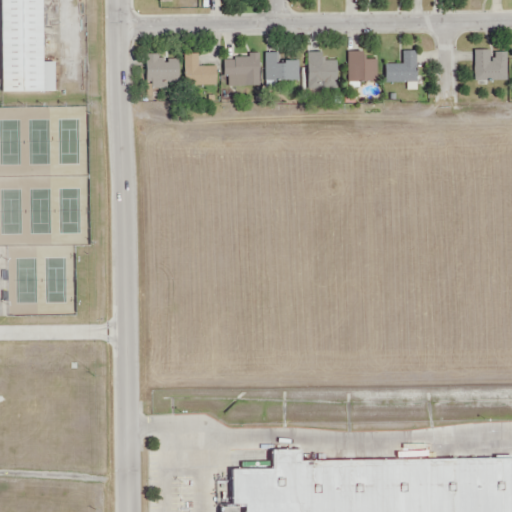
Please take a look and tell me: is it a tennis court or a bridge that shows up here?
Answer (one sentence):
The image shows a tennis court.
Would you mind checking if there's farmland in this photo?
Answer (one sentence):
Yes, some farmland is visible.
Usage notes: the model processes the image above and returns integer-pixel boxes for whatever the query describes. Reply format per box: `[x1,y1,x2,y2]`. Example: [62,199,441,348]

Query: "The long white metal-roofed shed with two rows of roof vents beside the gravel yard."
[2,0,44,90]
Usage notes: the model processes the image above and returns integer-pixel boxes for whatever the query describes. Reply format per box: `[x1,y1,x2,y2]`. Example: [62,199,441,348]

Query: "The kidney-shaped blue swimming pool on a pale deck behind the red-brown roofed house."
[358,81,381,98]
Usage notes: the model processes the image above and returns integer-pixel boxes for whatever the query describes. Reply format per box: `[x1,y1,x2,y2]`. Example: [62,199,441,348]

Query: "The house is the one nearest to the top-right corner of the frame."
[475,48,509,84]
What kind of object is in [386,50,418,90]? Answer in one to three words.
house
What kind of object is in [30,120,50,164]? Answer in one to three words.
tennis court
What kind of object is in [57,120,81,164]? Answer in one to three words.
tennis court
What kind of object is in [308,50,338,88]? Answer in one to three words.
house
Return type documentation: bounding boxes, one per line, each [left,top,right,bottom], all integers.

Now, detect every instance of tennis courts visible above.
[30,120,50,164]
[57,120,81,164]
[1,190,21,234]
[16,258,37,302]
[44,258,66,302]
[0,120,20,164]
[60,190,80,234]
[28,190,52,234]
